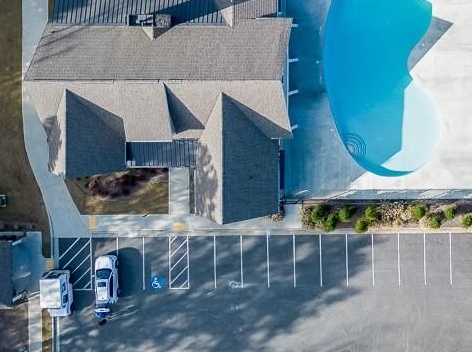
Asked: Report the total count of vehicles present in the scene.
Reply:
2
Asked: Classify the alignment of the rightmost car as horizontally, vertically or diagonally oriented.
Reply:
vertically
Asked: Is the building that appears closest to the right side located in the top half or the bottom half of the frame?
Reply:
top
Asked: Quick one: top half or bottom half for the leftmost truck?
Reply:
bottom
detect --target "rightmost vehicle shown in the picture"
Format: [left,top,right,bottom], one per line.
[91,253,119,311]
